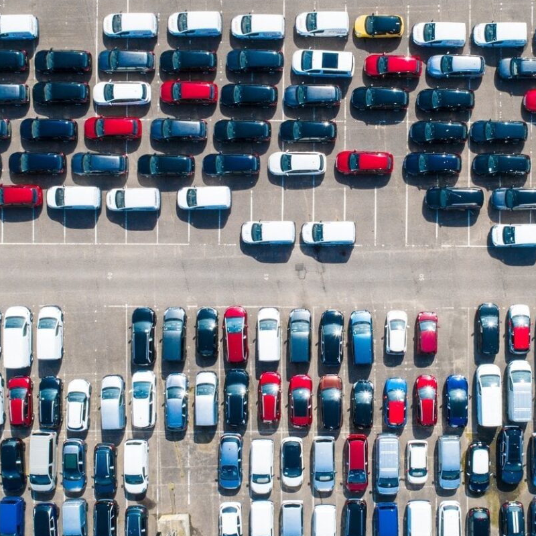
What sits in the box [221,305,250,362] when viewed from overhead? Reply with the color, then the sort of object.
red car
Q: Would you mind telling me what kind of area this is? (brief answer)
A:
parking lot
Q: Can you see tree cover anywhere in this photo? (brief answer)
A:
No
